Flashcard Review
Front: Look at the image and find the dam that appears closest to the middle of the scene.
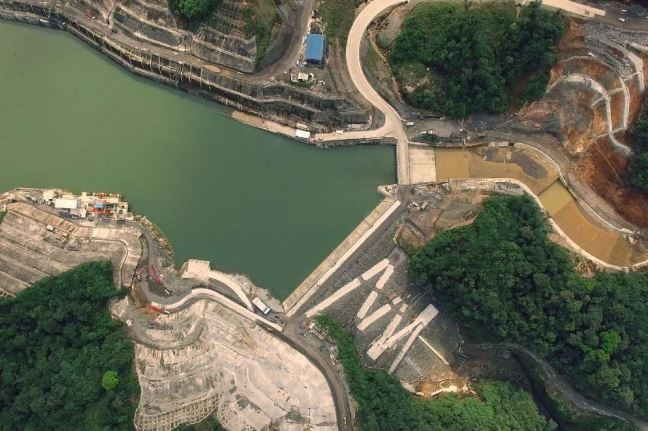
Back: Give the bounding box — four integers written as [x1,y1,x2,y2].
[277,191,449,375]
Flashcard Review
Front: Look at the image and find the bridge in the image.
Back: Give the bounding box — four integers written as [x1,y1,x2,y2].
[393,142,409,187]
